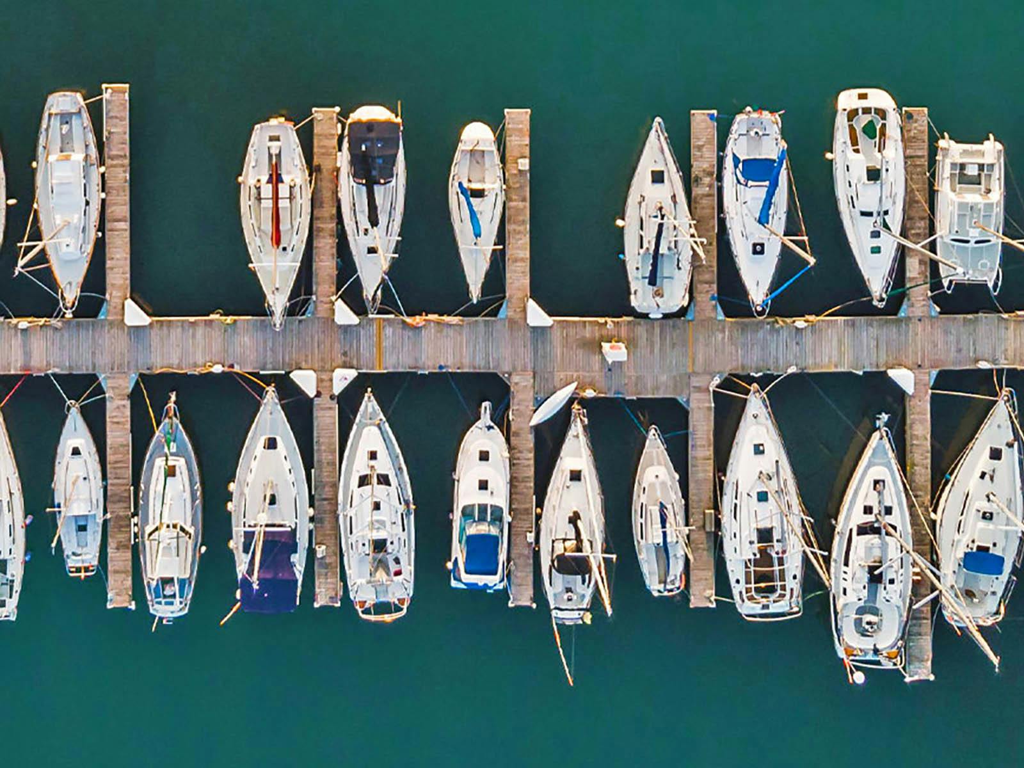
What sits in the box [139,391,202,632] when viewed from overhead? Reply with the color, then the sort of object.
white boat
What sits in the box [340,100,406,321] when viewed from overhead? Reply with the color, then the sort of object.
white boat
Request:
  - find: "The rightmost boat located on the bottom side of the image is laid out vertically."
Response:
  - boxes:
[936,398,1024,635]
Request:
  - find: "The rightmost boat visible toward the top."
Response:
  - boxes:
[931,134,1024,294]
